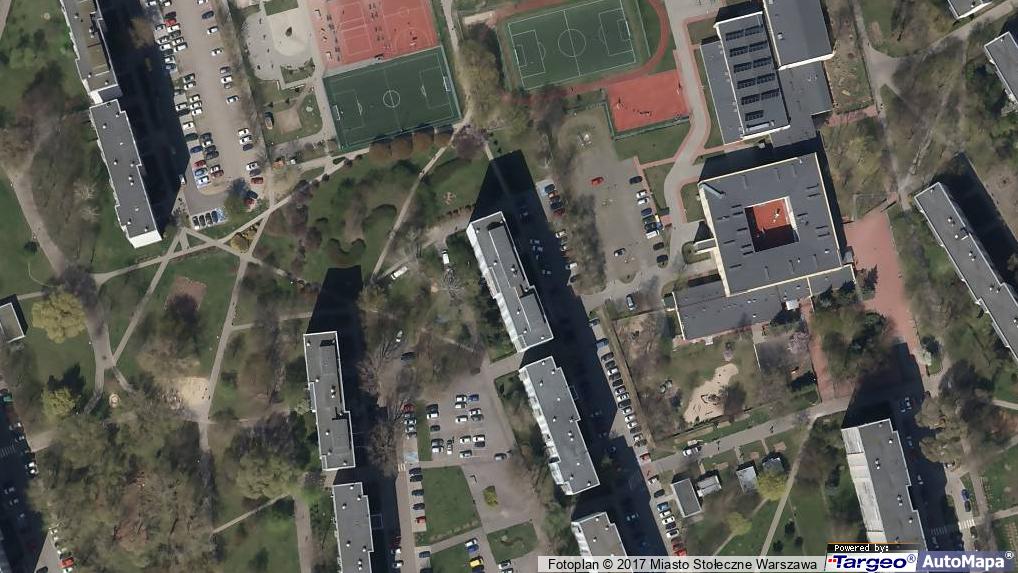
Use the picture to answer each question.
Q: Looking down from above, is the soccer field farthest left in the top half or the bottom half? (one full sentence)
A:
It is in the top half that the soccer field farthest left appears.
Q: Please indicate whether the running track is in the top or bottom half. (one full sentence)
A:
Seen from above, the running track lies in the top half of the view.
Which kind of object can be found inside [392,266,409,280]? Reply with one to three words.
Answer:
vehicle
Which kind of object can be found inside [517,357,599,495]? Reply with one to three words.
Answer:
building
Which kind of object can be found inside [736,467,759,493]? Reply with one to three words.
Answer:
shed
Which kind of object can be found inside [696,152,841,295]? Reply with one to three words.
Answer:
building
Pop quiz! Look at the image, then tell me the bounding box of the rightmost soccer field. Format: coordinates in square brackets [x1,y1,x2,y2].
[503,0,642,96]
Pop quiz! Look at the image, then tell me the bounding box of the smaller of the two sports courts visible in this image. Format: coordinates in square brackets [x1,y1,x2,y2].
[606,70,689,130]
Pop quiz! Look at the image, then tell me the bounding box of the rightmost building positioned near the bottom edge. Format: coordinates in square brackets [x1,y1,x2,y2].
[839,419,934,573]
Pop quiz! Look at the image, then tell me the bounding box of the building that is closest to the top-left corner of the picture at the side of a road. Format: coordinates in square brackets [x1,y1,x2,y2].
[60,0,124,103]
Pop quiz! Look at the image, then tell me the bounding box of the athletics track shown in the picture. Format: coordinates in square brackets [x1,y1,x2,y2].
[477,0,669,101]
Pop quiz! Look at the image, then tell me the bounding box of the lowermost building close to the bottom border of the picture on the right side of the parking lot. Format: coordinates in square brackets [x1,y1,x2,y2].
[569,512,633,573]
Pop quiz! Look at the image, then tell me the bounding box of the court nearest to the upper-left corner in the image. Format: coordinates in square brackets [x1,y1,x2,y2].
[315,0,440,71]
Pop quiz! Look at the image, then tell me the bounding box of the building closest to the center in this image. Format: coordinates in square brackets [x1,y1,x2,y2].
[462,212,553,353]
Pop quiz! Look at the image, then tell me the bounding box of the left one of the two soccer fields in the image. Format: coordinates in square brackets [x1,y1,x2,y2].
[323,47,460,149]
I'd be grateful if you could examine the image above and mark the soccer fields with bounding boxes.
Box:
[323,47,460,149]
[503,0,642,96]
